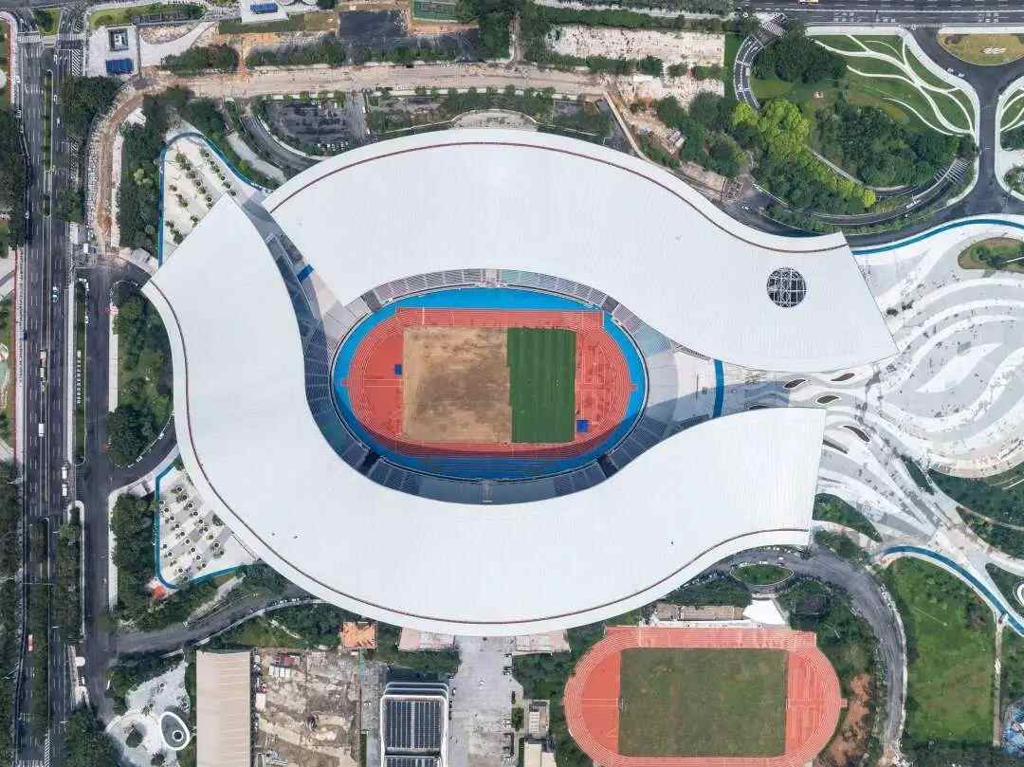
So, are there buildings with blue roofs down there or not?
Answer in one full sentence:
Yes, you can see a building with a blue roof in this photo.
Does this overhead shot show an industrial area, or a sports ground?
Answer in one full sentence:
What you see here is a sports ground.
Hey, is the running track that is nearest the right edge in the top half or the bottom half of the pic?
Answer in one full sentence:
The running track that is nearest the right edge is in the bottom half of the image.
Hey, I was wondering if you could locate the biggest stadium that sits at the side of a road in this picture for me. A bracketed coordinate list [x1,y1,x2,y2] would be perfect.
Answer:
[141,129,899,637]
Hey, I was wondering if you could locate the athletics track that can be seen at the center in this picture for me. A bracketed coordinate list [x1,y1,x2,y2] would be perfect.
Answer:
[335,287,647,478]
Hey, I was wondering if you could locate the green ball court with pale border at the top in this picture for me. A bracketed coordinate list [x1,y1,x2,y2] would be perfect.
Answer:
[411,0,458,23]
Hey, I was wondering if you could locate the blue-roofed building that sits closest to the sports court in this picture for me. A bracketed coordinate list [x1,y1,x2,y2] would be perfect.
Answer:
[250,3,280,17]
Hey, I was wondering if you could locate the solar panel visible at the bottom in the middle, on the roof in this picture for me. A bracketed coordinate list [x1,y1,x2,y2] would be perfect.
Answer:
[387,700,441,767]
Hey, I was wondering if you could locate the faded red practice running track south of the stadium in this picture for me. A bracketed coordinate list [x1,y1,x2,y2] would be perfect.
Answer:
[559,626,847,767]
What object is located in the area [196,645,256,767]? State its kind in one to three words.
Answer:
shed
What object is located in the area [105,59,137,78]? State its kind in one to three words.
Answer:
building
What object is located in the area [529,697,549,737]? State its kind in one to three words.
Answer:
building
